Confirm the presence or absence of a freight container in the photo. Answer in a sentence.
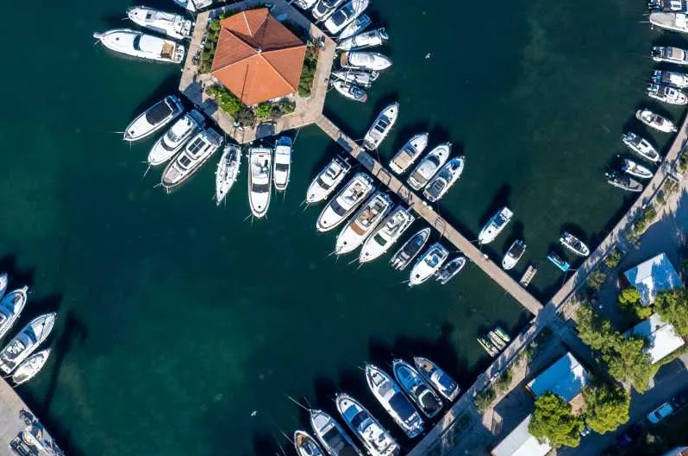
No, the picture doesn't show any freight container.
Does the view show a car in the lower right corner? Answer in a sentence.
Yes, a car appears in the lower right corner.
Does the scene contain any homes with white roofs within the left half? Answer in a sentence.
No, there is no home with a white roof within the left half.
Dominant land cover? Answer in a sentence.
The largest share of the image is taken up by water.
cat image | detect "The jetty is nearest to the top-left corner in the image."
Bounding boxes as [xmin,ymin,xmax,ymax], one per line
[179,0,337,144]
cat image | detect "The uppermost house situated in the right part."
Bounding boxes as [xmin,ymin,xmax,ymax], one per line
[618,250,683,306]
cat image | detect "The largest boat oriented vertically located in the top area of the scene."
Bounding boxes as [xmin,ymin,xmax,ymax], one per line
[247,137,274,223]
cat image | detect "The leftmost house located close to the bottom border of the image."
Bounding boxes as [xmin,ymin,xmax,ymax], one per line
[487,408,553,456]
